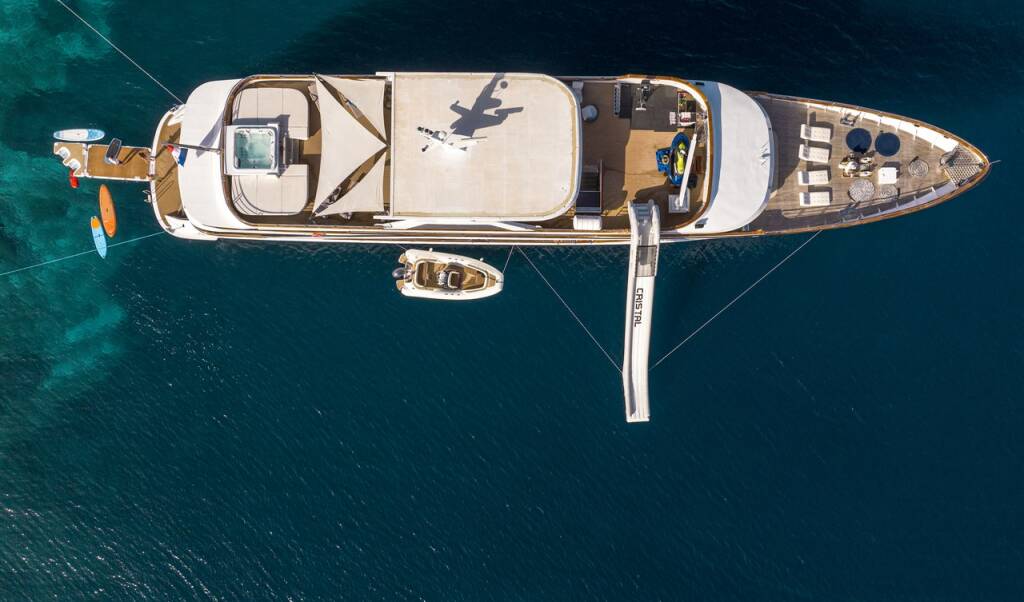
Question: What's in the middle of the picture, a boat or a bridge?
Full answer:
There is a boat in the middle of the picture.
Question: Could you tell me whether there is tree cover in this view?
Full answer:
No, tree cover can't be seen anywhere here.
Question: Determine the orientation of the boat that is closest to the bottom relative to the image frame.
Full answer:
Seen from above, the boat that is closest to the bottom lies from left to right.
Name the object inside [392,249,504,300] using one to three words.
boat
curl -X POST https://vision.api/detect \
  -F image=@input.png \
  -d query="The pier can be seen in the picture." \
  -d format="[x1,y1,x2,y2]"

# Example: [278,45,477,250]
[54,143,150,183]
